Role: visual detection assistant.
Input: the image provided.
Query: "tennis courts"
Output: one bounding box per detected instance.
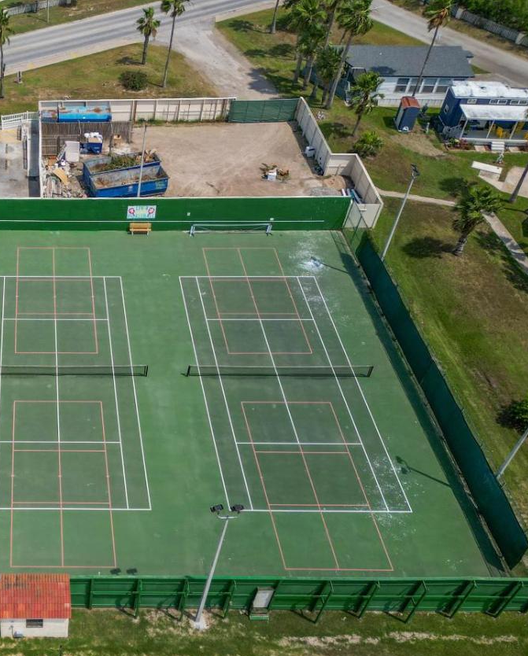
[181,247,411,569]
[0,246,153,568]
